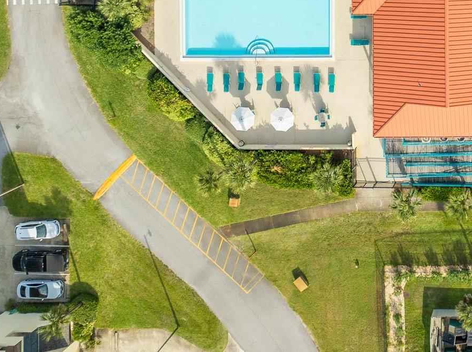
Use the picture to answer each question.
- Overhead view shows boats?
No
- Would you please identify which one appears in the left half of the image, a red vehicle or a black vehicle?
black vehicle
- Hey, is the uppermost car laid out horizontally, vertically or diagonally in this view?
horizontally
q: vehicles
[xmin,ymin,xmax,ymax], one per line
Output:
[14,217,64,242]
[16,277,66,302]
[13,248,71,275]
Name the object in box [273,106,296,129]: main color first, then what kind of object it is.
white umbrella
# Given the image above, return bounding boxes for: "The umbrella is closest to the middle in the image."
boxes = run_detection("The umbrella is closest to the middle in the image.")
[232,106,256,130]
